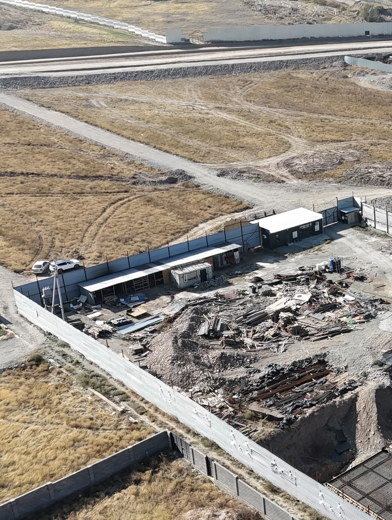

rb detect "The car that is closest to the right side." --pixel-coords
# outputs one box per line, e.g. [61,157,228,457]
[53,259,81,273]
